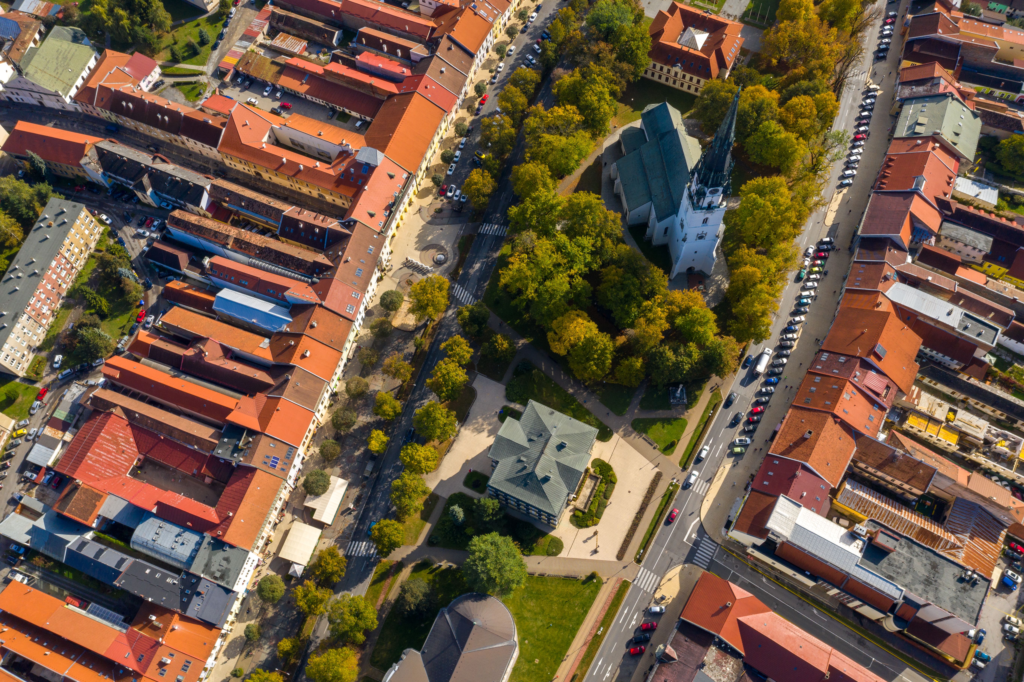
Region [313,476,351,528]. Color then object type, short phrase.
white tent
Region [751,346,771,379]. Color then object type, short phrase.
white vehicle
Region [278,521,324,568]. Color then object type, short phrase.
white tent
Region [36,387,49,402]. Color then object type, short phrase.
red vehicle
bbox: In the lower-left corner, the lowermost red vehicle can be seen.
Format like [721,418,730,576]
[65,594,87,610]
